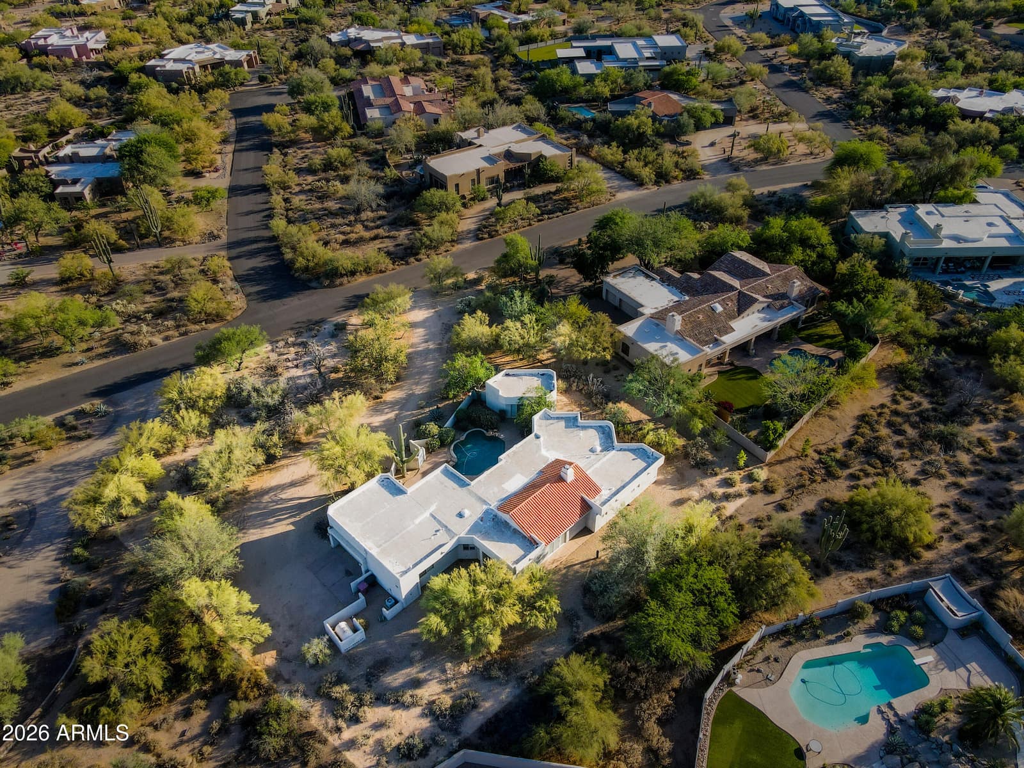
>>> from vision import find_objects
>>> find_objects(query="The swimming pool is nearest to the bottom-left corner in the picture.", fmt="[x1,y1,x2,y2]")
[448,427,509,478]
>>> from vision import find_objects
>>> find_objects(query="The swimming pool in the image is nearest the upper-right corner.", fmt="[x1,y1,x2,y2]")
[933,278,999,308]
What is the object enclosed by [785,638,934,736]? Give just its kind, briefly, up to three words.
swimming pool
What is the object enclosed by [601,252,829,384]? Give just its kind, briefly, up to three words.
house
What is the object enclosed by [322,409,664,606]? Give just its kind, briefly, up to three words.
house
